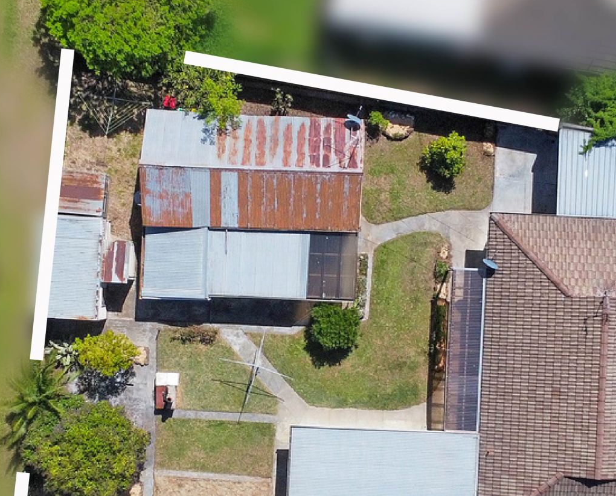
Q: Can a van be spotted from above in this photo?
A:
No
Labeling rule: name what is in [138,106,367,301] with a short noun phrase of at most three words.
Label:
shed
